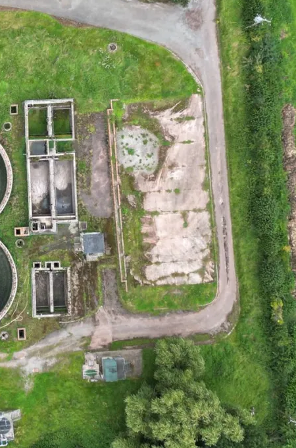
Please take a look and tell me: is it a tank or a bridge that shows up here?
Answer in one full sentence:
The one in the frame is a tank.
